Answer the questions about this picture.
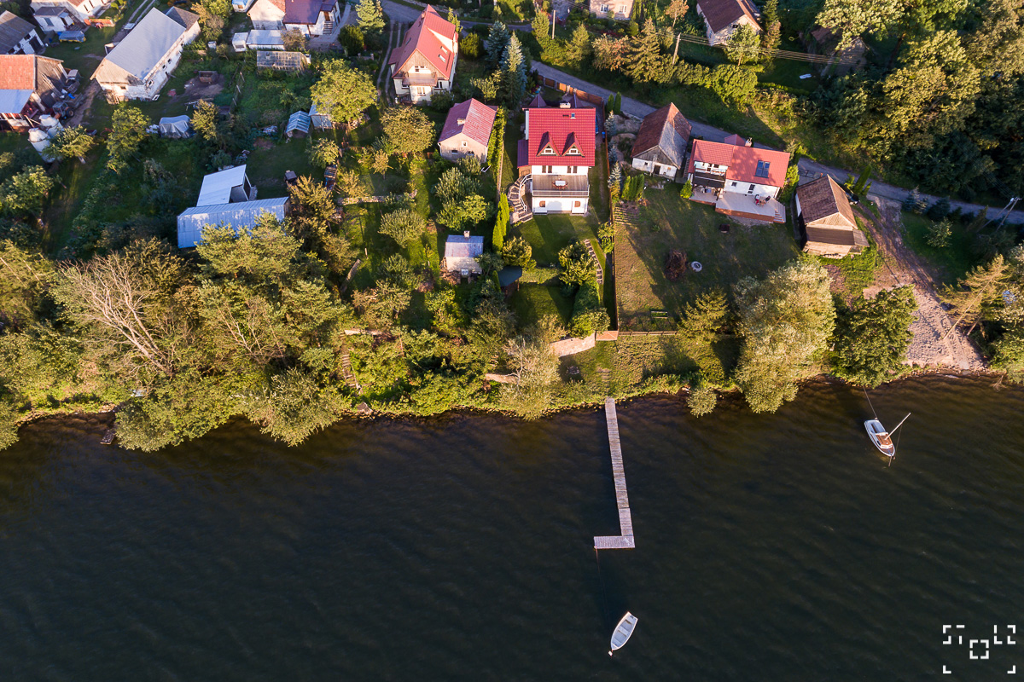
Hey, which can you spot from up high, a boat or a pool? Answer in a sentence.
Looking from above, you can make out a boat.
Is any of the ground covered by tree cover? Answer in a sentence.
Yes, there is tree cover in the image.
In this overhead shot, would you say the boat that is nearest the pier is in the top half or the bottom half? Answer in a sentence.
Seen from above, the boat that is nearest the pier lies in the bottom half of the view.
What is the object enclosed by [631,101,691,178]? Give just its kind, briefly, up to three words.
barn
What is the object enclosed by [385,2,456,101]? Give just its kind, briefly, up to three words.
house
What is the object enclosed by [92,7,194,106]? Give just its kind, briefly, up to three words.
barn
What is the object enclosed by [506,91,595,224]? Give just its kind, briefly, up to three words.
house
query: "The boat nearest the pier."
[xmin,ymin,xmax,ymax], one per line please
[612,611,639,651]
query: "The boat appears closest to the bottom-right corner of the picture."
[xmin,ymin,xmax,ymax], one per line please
[864,408,903,465]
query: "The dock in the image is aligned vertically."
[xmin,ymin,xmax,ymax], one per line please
[594,398,635,551]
